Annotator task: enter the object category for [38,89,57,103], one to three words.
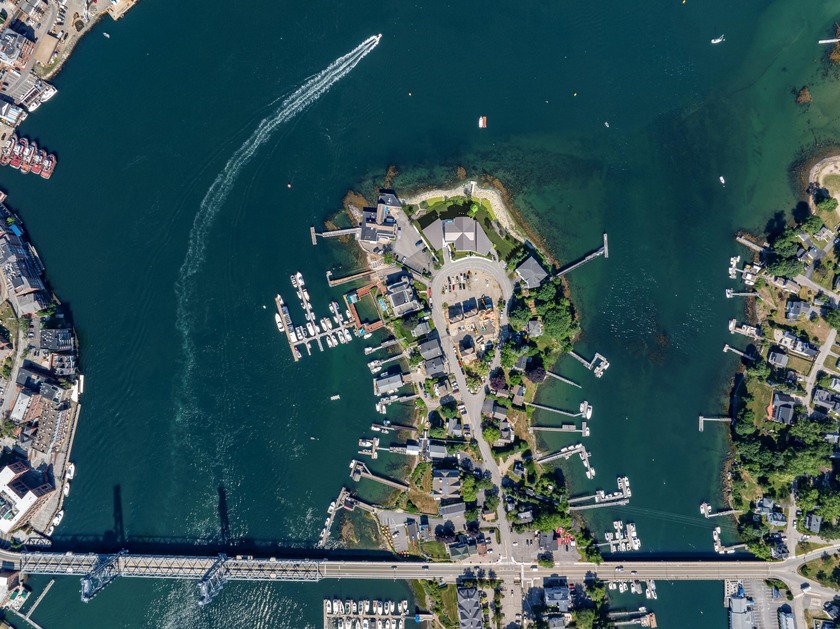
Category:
ship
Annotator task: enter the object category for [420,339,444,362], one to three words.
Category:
house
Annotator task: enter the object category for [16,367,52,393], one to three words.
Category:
building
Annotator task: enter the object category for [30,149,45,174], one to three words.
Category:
boat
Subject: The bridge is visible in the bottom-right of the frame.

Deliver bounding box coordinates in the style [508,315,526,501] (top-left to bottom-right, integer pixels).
[600,559,764,580]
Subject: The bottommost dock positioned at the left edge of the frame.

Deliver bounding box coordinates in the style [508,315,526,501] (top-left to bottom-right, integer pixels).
[7,577,56,629]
